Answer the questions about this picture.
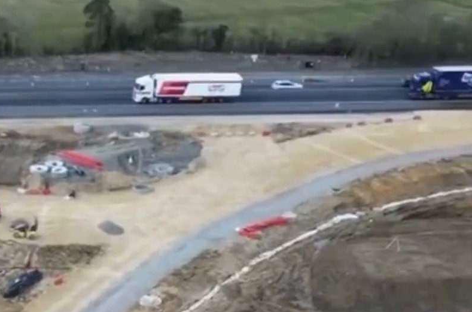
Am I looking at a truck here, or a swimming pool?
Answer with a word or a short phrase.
truck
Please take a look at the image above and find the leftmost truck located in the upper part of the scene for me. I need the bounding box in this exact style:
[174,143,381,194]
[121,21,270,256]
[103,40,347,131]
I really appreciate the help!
[135,70,247,104]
